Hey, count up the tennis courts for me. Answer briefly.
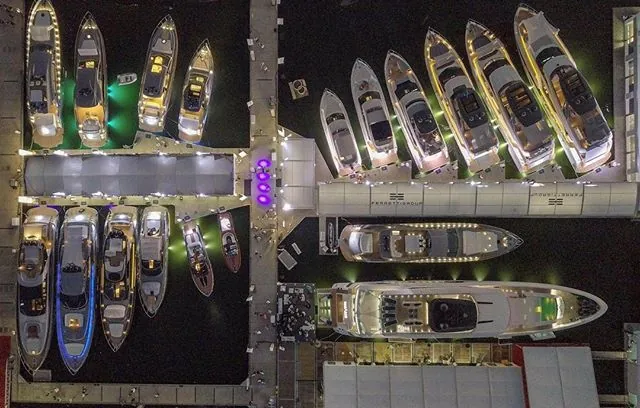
0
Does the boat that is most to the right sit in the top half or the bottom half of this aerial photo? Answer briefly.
top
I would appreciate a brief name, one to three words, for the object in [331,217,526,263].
boat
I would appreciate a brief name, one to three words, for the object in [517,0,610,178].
boat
